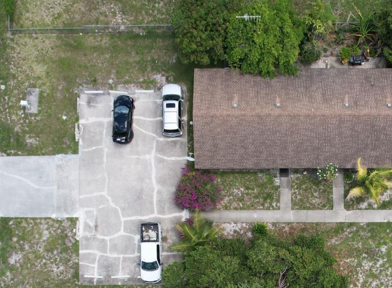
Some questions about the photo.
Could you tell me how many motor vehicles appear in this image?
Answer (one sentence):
The count of motor vehicles comes to 3.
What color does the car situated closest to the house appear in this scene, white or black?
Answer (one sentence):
From above, the car situated closest to the house appears white.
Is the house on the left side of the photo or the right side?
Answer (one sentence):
The house sits on the right side.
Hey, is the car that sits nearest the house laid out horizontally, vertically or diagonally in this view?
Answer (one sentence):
I'd say the car that sits nearest the house is aligned vertically in the picture.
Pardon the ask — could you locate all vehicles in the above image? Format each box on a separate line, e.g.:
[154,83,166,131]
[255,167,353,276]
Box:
[136,222,162,284]
[109,95,134,141]
[159,83,184,136]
